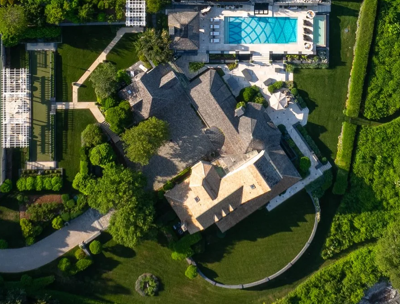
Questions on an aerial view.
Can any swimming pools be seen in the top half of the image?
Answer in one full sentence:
Yes, a swimming pool is visible in the top half of the image.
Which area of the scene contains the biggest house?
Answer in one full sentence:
The biggest house appears toward the center of the photo.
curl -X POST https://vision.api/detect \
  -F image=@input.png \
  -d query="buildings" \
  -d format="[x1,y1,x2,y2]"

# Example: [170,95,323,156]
[167,12,199,50]
[118,59,302,248]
